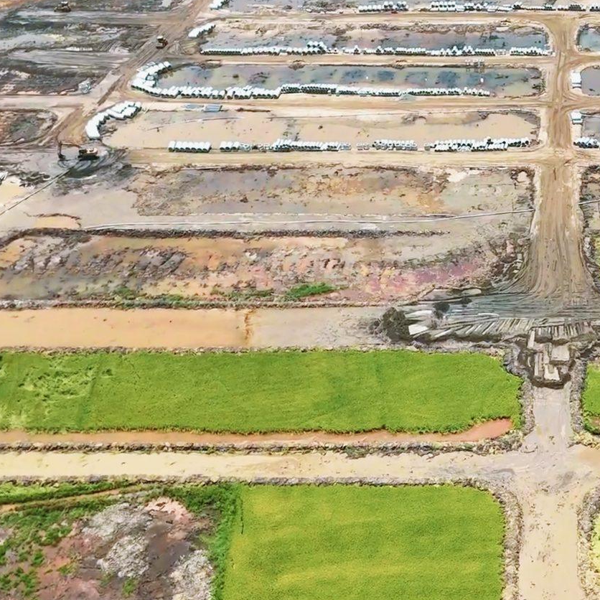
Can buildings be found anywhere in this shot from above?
No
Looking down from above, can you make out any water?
Yes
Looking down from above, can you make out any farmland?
Yes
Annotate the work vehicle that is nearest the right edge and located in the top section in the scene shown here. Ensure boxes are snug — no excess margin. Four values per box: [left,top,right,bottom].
[149,37,168,49]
